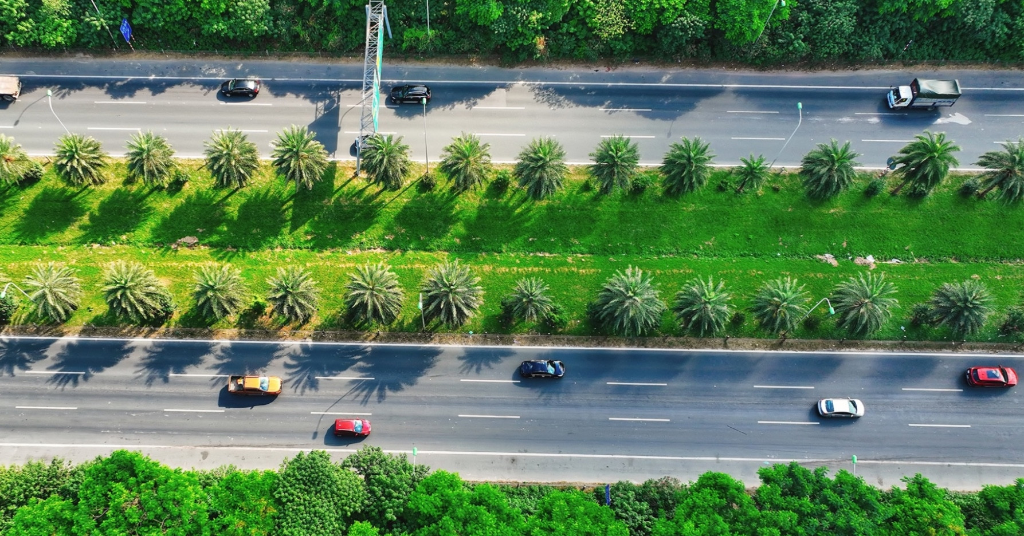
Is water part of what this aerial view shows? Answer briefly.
No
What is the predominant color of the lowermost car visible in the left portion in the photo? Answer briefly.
red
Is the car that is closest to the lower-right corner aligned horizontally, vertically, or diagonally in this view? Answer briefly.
horizontally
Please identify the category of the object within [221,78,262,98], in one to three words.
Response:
car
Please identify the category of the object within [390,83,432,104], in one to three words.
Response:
car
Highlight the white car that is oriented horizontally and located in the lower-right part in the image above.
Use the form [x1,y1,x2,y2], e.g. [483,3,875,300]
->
[815,396,864,418]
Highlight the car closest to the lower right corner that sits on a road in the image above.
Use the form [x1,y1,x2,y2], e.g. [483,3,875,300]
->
[964,364,1016,387]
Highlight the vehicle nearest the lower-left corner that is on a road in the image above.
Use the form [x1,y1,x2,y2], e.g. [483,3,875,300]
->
[227,373,284,396]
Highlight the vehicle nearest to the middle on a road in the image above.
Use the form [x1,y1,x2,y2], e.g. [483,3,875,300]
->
[520,357,566,379]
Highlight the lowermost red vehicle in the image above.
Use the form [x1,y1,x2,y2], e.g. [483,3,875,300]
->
[334,417,373,438]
